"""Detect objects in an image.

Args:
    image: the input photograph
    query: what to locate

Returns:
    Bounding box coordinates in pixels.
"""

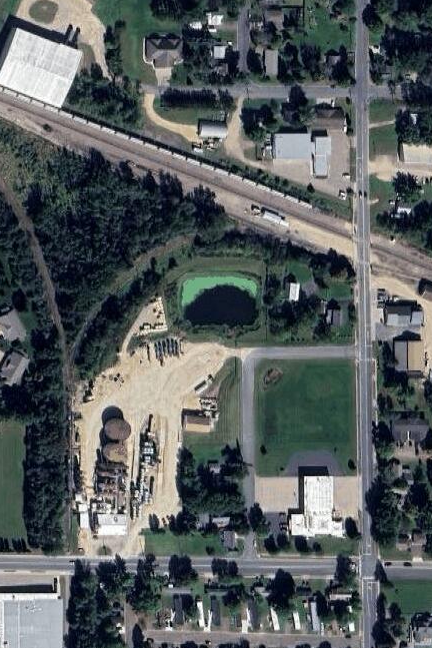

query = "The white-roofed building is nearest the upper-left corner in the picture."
[0,28,81,108]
